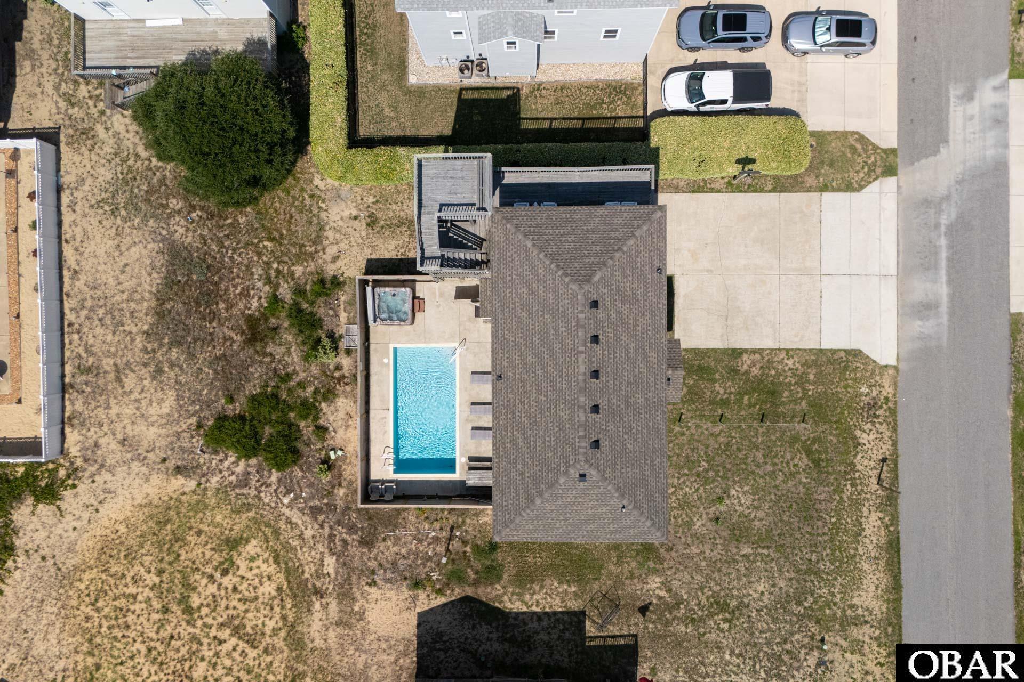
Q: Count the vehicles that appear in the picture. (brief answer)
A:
3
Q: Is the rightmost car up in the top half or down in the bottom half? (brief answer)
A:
top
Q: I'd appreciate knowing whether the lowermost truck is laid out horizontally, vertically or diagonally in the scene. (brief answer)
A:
horizontally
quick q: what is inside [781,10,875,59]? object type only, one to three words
car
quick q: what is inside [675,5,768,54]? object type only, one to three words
car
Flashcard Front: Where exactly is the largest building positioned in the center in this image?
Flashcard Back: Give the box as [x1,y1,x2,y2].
[479,203,685,544]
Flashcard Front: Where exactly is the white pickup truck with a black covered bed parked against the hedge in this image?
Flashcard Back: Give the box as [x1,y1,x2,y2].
[659,65,773,114]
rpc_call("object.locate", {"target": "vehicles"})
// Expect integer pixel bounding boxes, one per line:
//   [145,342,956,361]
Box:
[659,65,773,114]
[675,5,768,54]
[781,10,875,59]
